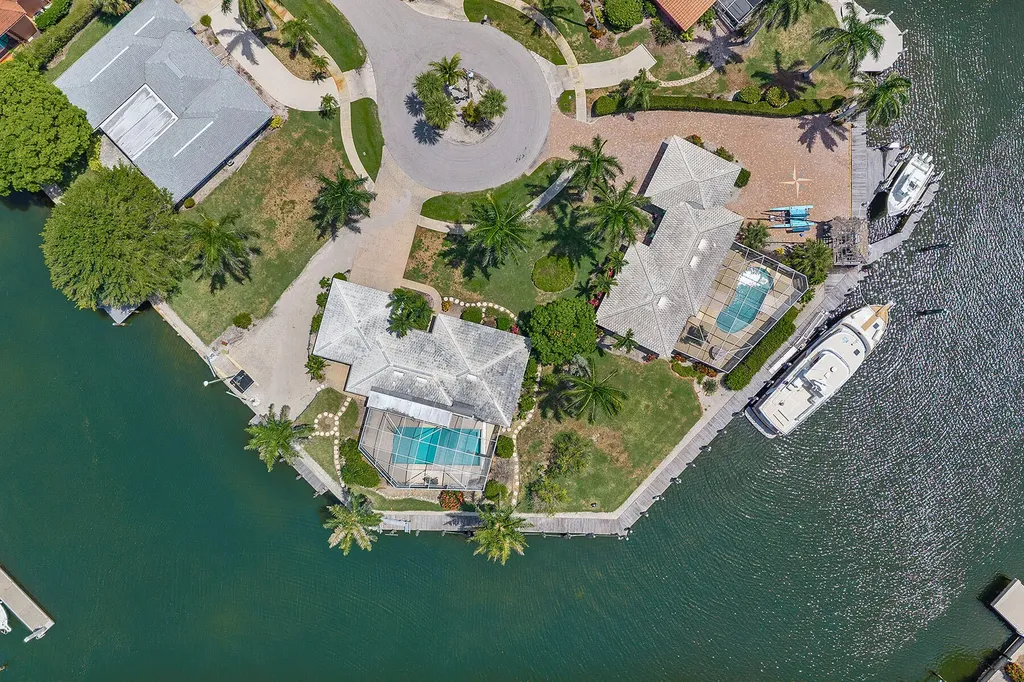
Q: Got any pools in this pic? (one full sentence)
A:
Yes, a pool appears in the view.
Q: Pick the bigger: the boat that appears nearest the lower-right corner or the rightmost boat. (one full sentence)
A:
The rightmost boat is smaller than the boat that appears nearest the lower-right corner.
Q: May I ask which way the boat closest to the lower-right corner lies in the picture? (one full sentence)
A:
What the image shows is the boat closest to the lower-right corner lying at an angle.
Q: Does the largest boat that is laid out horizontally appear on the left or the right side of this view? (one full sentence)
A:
The largest boat that is laid out horizontally appears in the right half of the scene.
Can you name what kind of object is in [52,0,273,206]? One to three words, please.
house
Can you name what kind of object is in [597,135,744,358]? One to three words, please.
house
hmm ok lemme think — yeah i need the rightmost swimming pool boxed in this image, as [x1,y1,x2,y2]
[715,266,775,335]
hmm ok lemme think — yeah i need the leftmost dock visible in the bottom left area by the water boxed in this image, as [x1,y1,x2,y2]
[0,568,49,635]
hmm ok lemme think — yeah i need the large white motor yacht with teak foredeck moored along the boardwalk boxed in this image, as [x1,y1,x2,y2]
[748,302,894,436]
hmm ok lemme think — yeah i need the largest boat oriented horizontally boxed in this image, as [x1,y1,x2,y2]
[762,204,816,228]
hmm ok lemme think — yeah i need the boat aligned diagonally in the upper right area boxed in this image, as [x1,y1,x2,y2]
[885,151,935,217]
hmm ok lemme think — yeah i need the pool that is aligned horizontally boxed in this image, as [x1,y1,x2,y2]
[392,424,481,468]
